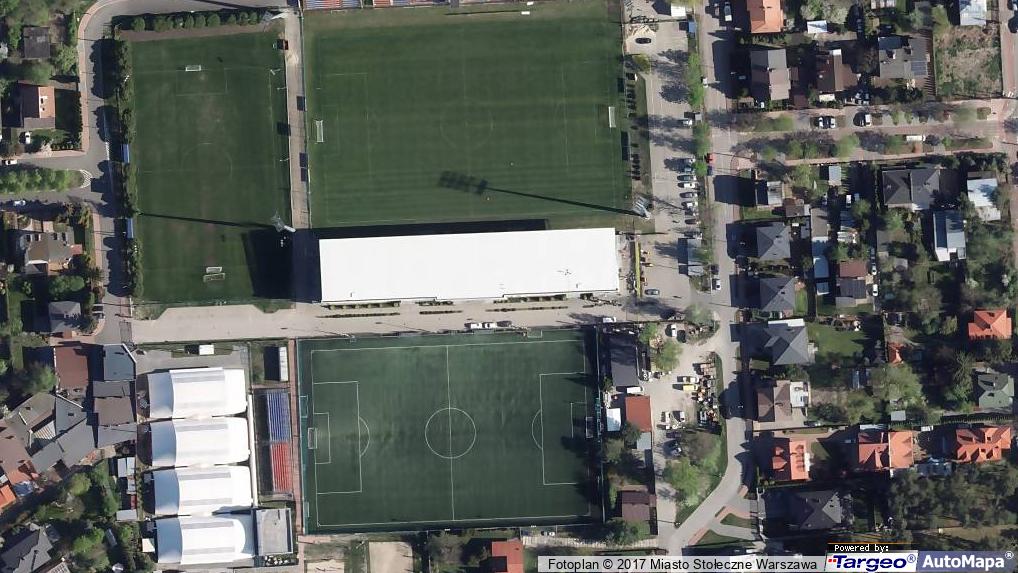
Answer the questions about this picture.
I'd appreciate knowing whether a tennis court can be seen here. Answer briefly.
No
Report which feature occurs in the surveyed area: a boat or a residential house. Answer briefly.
residential house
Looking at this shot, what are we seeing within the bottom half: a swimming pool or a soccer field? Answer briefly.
soccer field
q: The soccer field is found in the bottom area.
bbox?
[297,327,605,533]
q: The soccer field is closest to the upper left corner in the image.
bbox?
[129,30,291,304]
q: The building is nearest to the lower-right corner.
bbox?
[955,426,1011,462]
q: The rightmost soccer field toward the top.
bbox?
[312,21,630,229]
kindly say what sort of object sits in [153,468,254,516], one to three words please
building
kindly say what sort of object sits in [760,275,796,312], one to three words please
house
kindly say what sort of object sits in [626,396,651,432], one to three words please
building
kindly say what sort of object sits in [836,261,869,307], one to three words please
house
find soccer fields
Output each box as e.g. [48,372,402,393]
[297,327,605,533]
[312,21,630,229]
[129,30,291,304]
